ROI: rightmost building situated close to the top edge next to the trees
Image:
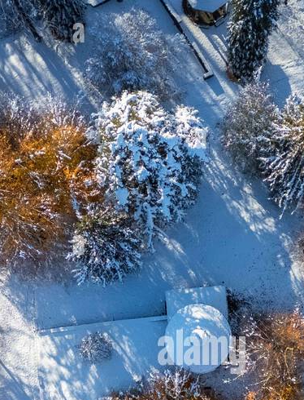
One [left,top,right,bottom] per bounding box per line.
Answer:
[187,0,230,30]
